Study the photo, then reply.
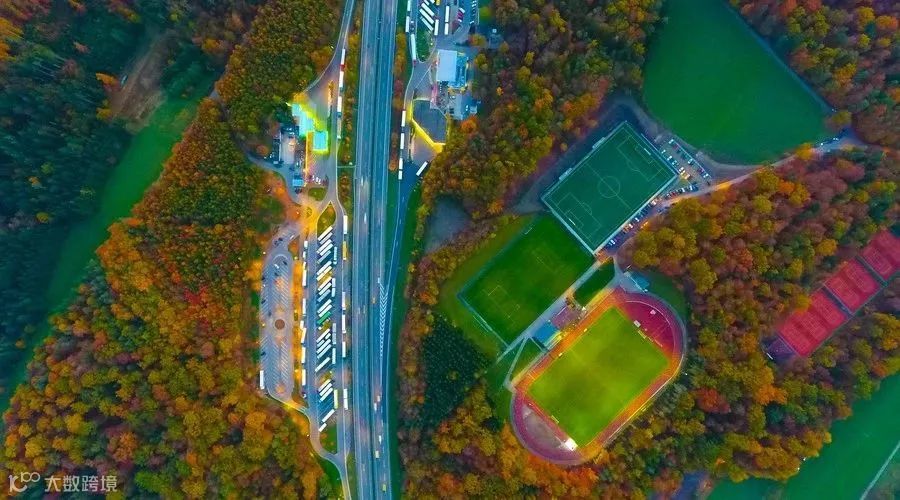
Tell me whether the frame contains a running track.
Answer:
Yes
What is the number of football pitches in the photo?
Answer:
three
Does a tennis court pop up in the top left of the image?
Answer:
No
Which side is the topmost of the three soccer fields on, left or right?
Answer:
right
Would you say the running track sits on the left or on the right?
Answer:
right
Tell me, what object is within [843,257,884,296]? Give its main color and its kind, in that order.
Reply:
red tennis court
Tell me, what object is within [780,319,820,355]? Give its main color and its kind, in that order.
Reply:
red tennis court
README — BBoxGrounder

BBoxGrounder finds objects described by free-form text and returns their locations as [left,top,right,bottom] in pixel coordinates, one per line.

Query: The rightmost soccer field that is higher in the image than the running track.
[541,120,679,254]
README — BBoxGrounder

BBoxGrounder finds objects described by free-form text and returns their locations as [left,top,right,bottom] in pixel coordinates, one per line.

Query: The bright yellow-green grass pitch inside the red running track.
[529,311,669,448]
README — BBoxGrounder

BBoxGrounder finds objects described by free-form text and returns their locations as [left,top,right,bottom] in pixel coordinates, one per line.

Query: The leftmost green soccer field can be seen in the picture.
[460,214,595,348]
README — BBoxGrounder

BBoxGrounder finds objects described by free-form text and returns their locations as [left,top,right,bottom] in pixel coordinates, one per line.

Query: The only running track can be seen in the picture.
[512,294,686,465]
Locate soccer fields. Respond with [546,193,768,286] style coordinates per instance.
[541,120,679,254]
[529,311,669,448]
[460,214,595,348]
